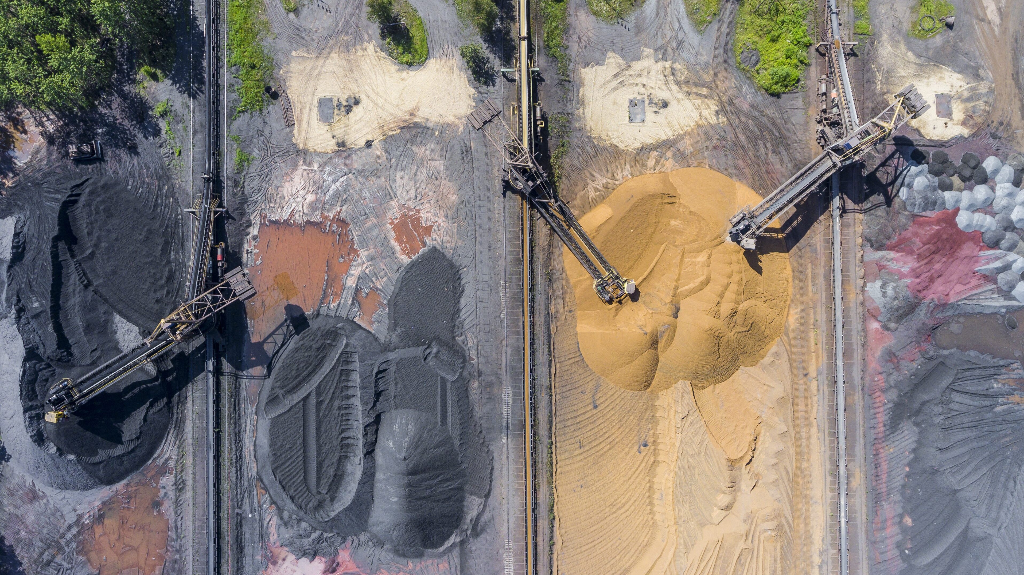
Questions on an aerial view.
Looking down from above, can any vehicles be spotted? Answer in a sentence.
Yes, the picture does show a vehicle.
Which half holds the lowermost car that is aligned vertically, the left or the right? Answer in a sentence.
The lowermost car that is aligned vertically is on the left side of the image.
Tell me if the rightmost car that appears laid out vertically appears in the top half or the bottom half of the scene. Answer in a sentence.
The rightmost car that appears laid out vertically is in the top half of the image.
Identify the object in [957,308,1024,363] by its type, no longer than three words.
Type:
pond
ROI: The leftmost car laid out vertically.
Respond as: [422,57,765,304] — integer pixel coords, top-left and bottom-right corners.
[179,170,228,310]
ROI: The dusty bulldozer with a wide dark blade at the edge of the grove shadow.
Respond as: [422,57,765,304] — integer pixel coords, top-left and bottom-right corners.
[69,144,103,164]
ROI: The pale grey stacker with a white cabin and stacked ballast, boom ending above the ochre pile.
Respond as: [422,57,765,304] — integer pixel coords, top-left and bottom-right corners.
[735,78,934,251]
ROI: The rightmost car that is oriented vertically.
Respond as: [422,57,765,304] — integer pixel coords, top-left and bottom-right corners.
[810,25,863,159]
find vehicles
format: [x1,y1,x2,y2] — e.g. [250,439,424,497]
[810,25,863,159]
[69,144,103,164]
[43,264,258,424]
[465,97,637,303]
[179,170,228,310]
[735,78,934,251]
